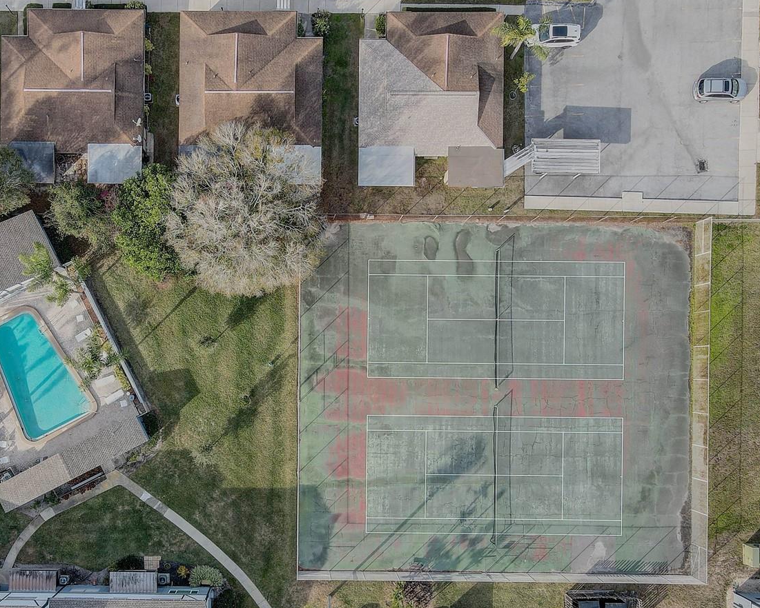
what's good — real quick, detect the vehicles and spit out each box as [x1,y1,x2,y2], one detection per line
[692,77,744,102]
[529,22,583,49]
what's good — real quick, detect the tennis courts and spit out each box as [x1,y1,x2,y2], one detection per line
[299,397,691,574]
[299,223,691,397]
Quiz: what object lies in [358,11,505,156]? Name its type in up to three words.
house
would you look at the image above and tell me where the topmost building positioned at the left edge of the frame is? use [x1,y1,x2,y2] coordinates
[0,8,147,153]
